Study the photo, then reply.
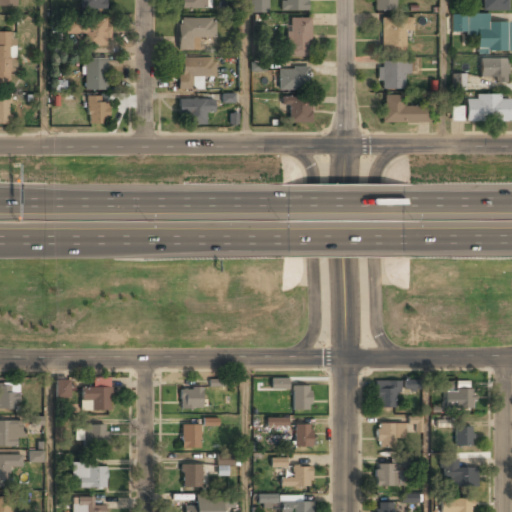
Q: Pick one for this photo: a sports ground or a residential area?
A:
residential area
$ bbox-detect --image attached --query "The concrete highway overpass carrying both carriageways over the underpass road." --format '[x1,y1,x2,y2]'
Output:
[280,183,412,260]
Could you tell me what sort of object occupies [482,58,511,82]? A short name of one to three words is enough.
house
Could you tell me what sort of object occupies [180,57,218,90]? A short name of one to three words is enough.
house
